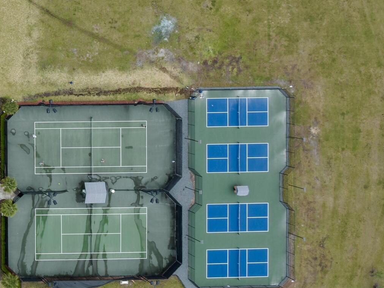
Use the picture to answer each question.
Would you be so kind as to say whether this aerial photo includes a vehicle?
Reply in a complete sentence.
No, no vehicle is visible in the scene.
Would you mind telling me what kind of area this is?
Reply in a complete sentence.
The picture captures a sports ground.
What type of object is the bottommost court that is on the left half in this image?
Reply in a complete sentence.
The bottommost court that is on the left half can be classified as a tennis court.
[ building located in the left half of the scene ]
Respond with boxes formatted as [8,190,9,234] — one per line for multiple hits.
[81,181,107,204]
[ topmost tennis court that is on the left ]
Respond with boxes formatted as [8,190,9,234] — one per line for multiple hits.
[11,105,176,193]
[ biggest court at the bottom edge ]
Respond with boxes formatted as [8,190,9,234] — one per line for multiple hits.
[11,192,176,278]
